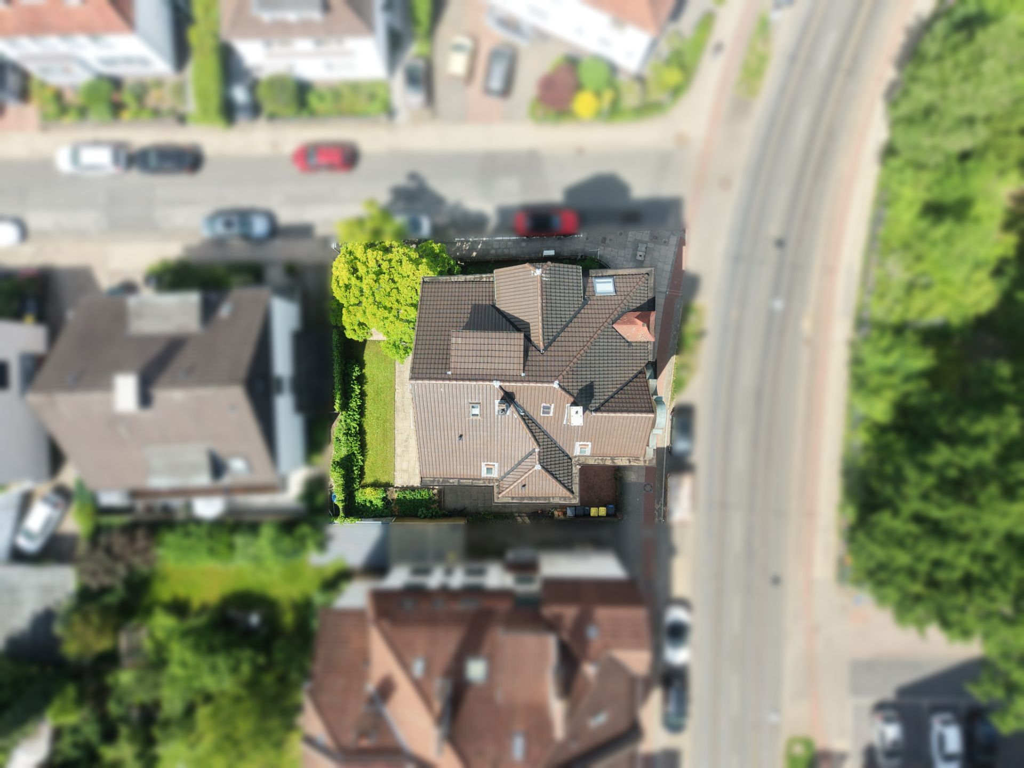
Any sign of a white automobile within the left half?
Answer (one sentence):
Yes, a white automobile shows up within the left half.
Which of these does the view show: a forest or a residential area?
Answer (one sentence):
What you see here is a residential area.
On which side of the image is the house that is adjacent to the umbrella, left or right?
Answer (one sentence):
The house that is adjacent to the umbrella appears in the left half of the scene.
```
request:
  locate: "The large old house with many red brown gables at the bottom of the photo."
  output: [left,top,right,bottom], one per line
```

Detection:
[299,536,653,768]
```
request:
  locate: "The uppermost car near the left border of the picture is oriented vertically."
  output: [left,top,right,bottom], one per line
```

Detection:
[0,60,26,117]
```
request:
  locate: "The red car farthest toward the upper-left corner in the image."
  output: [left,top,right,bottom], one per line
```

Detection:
[294,142,360,175]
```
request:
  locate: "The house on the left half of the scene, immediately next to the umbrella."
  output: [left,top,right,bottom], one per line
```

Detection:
[32,287,311,506]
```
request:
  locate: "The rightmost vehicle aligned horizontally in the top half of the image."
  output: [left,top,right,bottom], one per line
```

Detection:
[514,207,580,238]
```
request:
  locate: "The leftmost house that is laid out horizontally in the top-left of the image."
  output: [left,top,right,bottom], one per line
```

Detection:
[0,0,171,84]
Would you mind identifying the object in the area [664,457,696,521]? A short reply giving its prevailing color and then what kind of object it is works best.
white trailer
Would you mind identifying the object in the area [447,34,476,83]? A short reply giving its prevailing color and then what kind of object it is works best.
white car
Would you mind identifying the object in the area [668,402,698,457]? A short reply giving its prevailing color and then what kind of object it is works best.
gray car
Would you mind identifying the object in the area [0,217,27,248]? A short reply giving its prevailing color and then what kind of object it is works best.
white car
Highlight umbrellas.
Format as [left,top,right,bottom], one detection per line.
[192,496,226,523]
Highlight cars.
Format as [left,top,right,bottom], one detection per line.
[668,402,698,457]
[227,65,258,127]
[869,705,903,768]
[660,666,691,732]
[447,34,476,83]
[28,489,70,557]
[0,217,27,248]
[294,142,360,175]
[663,599,694,666]
[137,143,205,176]
[514,207,580,238]
[0,60,26,117]
[205,209,275,240]
[926,706,964,768]
[379,212,438,241]
[60,143,130,175]
[486,42,516,102]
